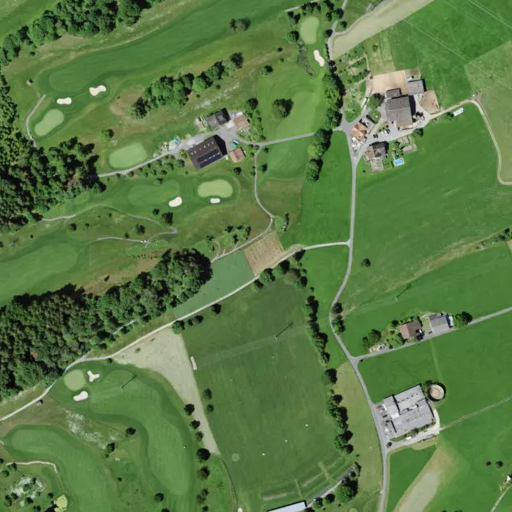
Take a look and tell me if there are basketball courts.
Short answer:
No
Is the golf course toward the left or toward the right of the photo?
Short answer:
left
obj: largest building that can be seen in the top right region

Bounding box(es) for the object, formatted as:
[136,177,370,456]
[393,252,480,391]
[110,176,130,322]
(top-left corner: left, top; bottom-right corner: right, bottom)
[384,96,414,127]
